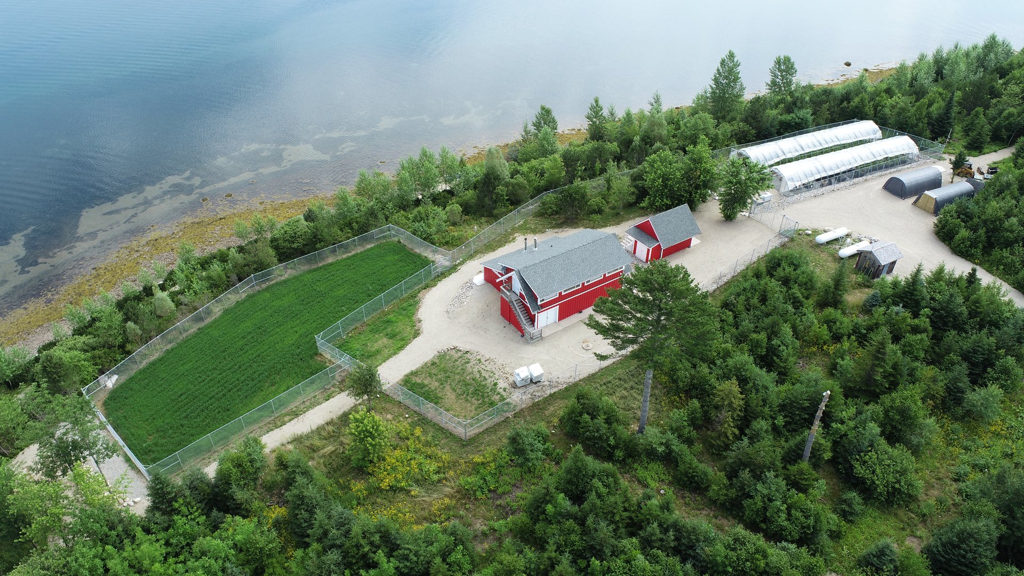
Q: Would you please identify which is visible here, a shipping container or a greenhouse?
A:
greenhouse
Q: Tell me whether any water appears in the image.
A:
Yes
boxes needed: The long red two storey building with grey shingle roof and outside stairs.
[479,227,633,342]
